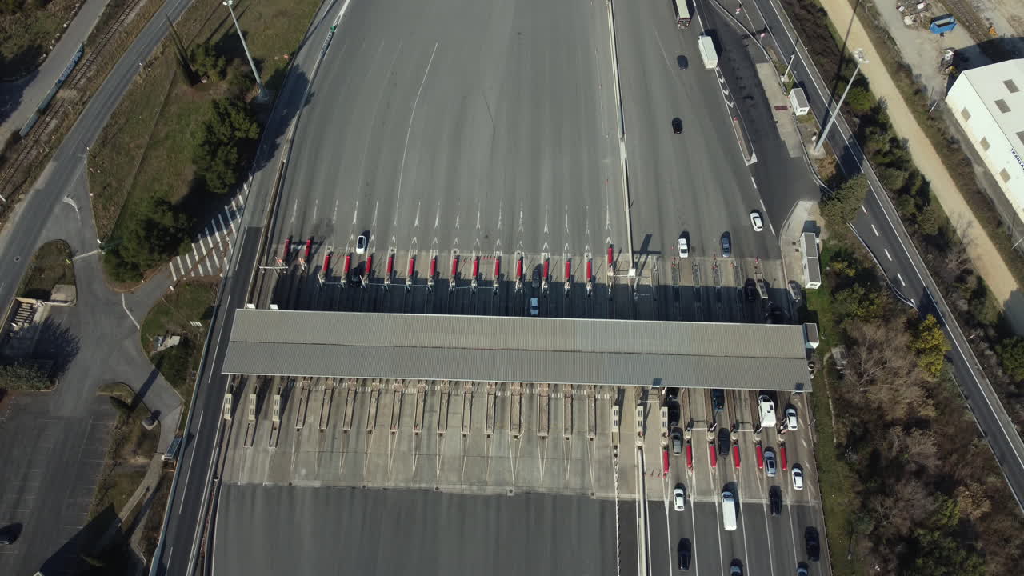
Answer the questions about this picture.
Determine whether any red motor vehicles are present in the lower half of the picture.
No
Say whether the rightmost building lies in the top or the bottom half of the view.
top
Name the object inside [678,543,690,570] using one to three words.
vehicle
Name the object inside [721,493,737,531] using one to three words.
vehicle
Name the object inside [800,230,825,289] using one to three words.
shed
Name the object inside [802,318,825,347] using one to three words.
shed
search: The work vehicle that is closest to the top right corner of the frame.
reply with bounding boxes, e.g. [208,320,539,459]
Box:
[983,19,1001,37]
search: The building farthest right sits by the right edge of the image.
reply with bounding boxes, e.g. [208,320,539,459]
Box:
[945,53,1024,221]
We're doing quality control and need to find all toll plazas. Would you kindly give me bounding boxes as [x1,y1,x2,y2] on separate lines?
[203,242,821,506]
